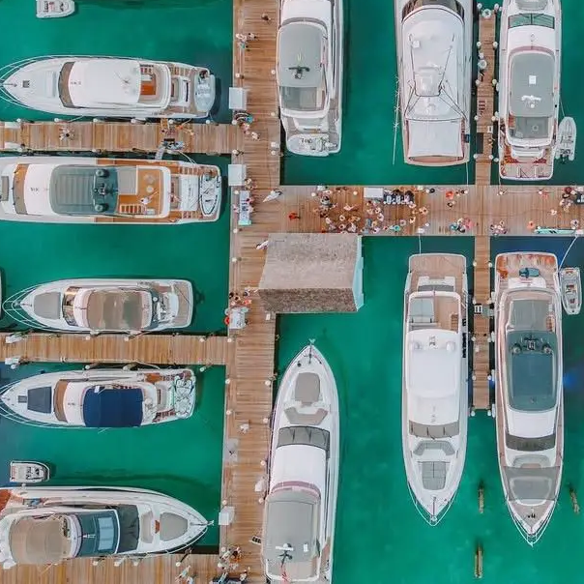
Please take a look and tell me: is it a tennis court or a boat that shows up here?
boat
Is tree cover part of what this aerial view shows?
No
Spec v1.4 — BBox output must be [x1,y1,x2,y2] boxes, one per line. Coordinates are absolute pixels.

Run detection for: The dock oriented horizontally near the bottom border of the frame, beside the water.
[0,551,223,584]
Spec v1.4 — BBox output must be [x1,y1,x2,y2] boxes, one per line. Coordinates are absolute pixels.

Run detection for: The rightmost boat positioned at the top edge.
[497,0,562,179]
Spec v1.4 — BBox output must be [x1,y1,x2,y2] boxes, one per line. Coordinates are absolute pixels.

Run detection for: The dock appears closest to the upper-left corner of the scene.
[0,121,232,154]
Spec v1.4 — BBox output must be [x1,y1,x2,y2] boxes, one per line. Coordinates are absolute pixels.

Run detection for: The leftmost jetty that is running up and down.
[222,0,282,584]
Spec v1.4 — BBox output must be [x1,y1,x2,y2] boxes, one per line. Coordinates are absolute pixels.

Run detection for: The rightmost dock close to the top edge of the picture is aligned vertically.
[476,8,497,187]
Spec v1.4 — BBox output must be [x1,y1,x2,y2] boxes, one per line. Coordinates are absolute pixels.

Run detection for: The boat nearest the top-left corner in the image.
[35,0,74,17]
